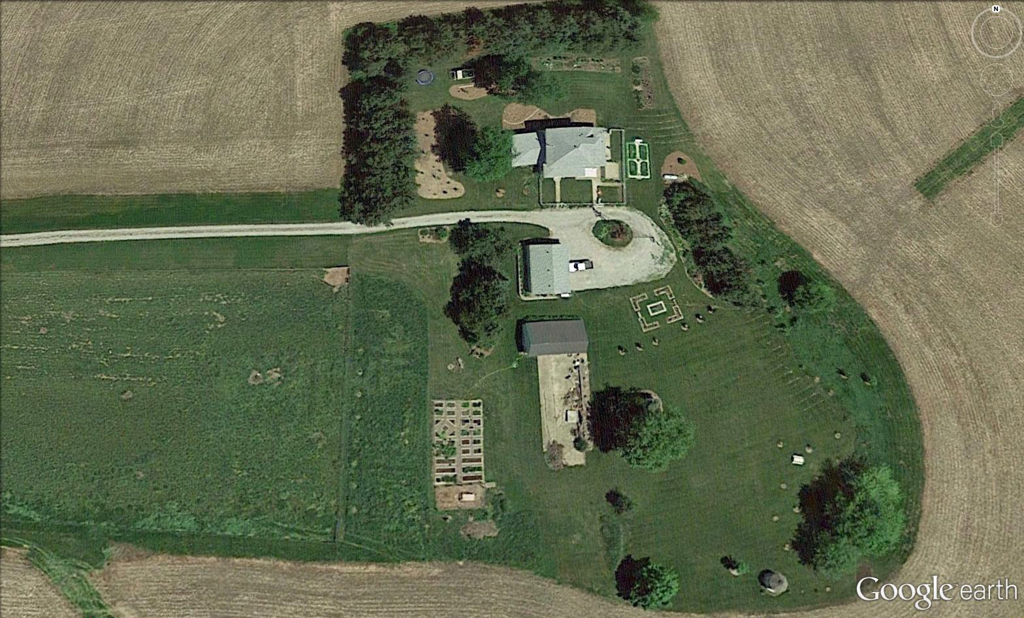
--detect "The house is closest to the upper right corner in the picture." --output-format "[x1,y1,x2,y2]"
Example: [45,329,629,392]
[507,128,607,178]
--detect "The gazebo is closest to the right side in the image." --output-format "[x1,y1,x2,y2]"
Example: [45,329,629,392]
[764,568,788,596]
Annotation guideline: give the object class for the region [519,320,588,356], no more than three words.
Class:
shed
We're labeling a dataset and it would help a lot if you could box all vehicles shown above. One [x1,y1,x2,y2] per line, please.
[569,260,593,272]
